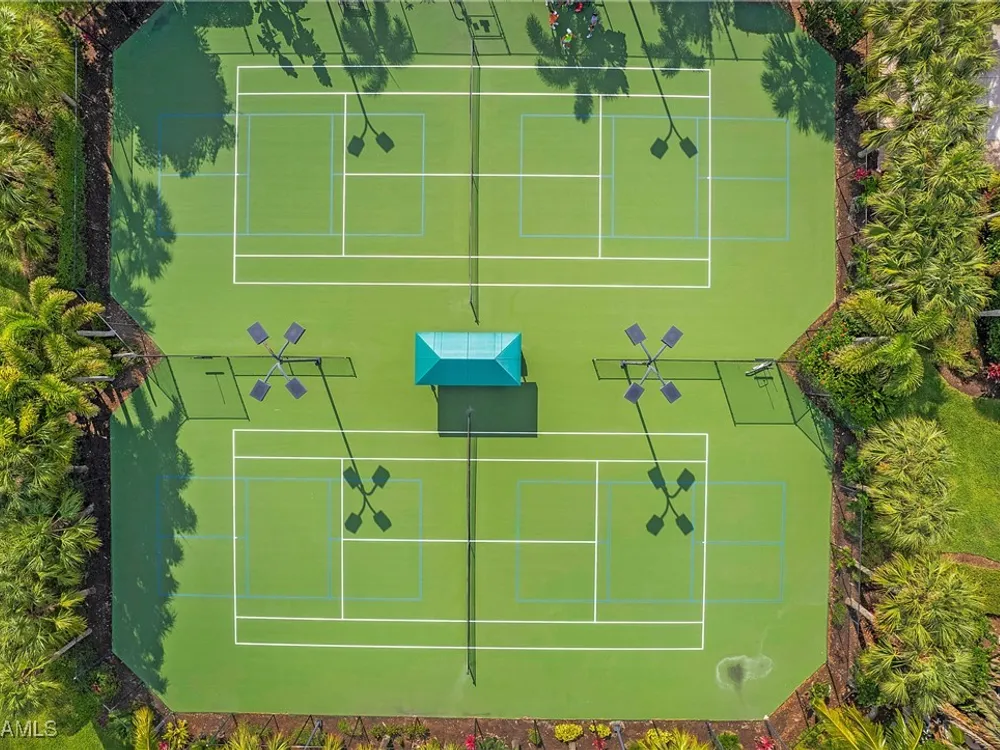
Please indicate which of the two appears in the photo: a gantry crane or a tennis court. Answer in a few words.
tennis court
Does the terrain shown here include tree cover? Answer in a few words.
Yes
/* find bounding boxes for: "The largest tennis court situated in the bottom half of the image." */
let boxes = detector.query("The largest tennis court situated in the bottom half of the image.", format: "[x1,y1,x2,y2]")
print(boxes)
[109,356,832,720]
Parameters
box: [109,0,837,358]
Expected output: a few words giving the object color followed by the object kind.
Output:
green tennis court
